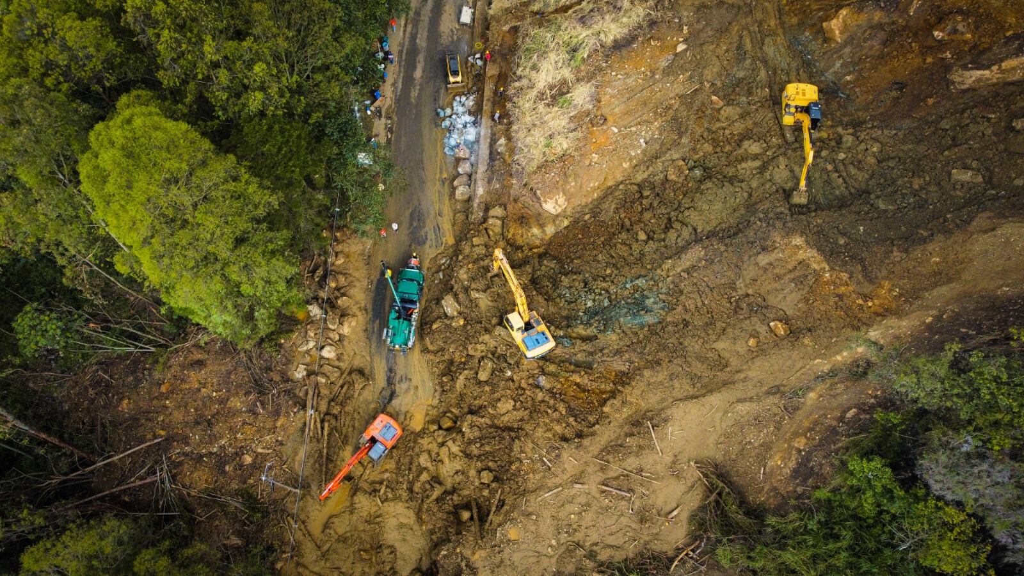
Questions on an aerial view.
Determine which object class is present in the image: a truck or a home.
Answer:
truck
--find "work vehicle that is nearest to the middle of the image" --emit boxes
[492,252,561,371]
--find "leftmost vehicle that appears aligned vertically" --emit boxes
[380,254,422,351]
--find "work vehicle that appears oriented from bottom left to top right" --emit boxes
[322,405,409,498]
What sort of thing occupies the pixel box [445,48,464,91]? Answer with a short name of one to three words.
work vehicle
